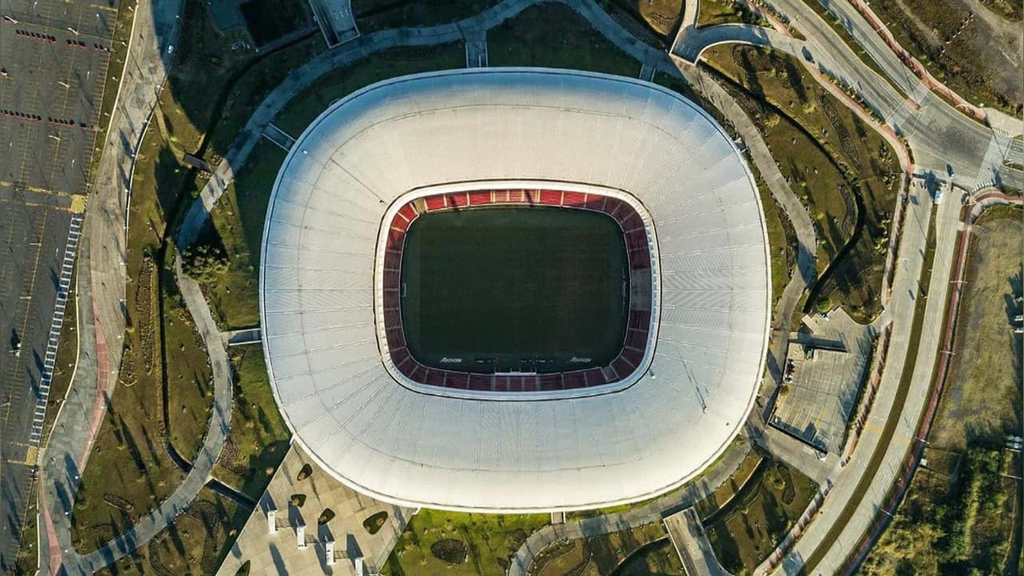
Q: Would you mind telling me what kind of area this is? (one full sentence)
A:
This image shows a sports ground.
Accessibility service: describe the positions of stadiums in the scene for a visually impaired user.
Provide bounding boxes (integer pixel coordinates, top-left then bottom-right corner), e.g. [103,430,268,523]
[261,67,771,512]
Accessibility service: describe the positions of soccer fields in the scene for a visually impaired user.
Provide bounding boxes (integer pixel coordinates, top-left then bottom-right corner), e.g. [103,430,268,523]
[400,204,630,374]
